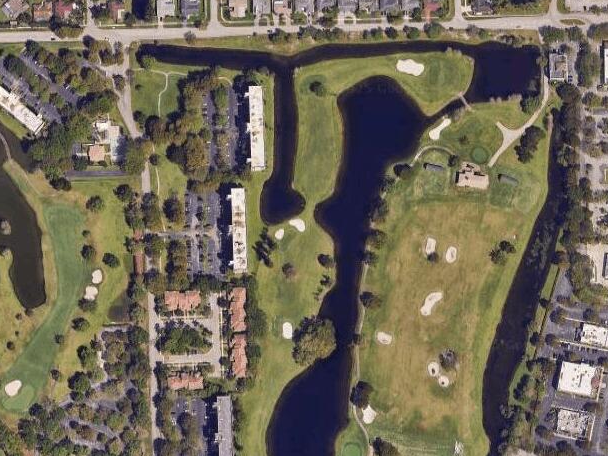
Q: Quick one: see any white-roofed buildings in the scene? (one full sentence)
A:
Yes, looking at the shot, I can spot a white-roofed building.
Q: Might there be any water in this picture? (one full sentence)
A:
Yes, the picture does contain water.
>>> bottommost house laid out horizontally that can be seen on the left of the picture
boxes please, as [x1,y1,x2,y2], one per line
[168,372,204,391]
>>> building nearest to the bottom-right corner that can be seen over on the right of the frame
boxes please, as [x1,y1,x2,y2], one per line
[556,409,594,441]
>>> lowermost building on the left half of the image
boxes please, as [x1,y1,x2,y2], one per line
[213,395,232,456]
